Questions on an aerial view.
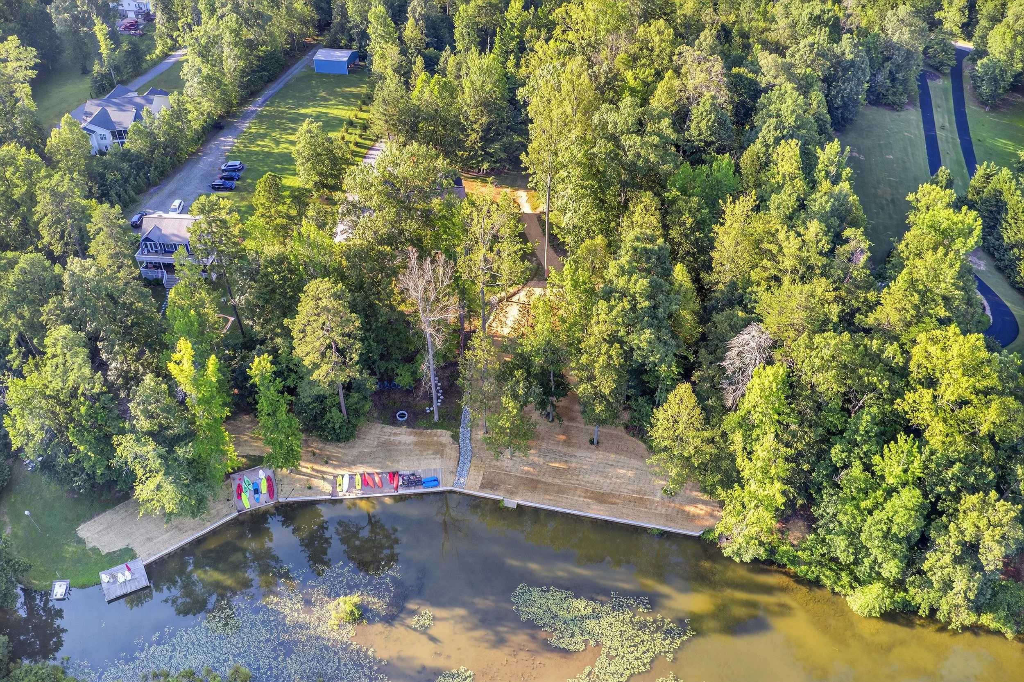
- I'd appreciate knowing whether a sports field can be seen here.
No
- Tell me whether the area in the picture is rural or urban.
rural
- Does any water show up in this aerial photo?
Yes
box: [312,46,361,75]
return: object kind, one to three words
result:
shed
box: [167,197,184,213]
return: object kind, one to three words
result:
car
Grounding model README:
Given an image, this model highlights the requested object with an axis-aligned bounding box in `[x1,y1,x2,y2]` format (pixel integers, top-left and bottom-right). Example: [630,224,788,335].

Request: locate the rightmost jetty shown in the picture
[99,557,153,606]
